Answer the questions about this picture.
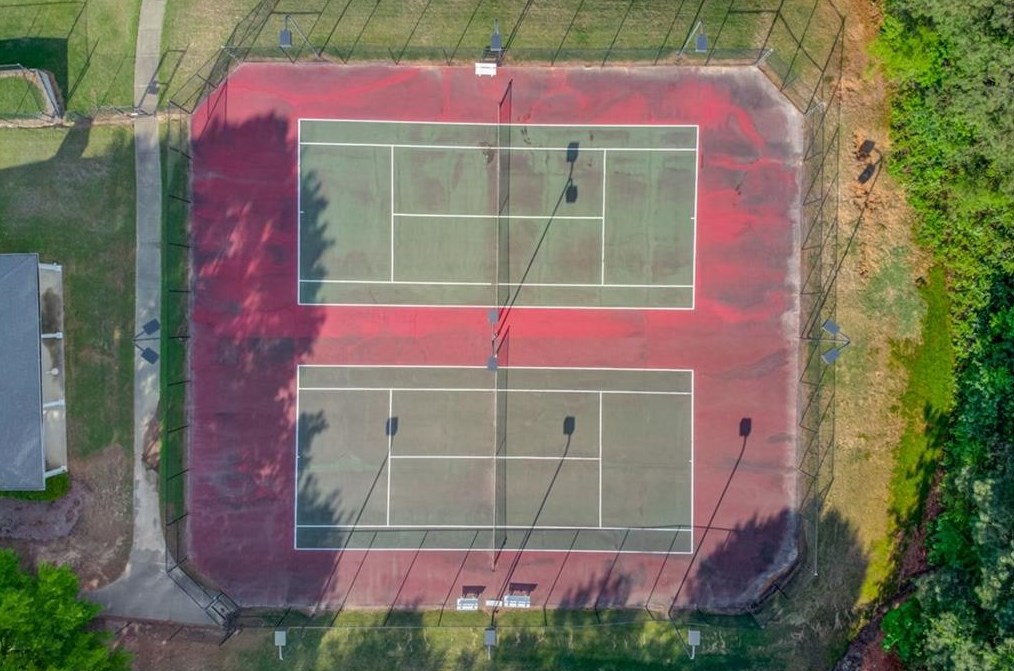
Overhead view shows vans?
No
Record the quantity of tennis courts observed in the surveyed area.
2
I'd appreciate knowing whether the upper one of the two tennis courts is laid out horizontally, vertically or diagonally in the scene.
horizontally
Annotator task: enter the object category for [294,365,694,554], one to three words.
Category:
tennis court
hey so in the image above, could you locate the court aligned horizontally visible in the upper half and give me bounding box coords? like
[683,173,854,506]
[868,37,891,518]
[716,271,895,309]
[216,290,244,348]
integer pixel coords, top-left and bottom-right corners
[298,119,699,310]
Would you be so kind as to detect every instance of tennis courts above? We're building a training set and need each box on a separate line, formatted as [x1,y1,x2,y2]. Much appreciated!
[294,365,694,554]
[298,119,699,310]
